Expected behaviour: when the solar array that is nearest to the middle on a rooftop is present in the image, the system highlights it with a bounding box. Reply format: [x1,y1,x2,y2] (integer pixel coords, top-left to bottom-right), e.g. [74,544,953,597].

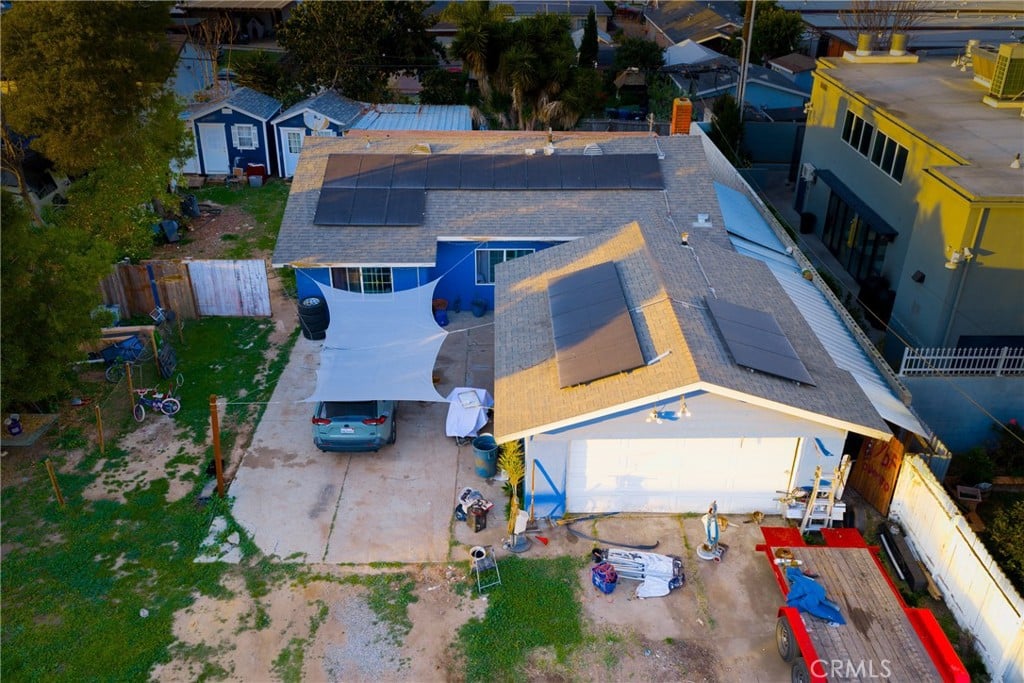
[547,257,642,385]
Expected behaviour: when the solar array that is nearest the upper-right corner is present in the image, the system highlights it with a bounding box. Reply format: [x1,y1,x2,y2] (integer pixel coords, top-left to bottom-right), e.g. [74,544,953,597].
[700,284,819,382]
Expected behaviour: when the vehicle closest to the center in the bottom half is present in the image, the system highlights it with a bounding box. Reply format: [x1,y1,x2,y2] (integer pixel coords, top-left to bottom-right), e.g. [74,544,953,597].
[312,403,400,451]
